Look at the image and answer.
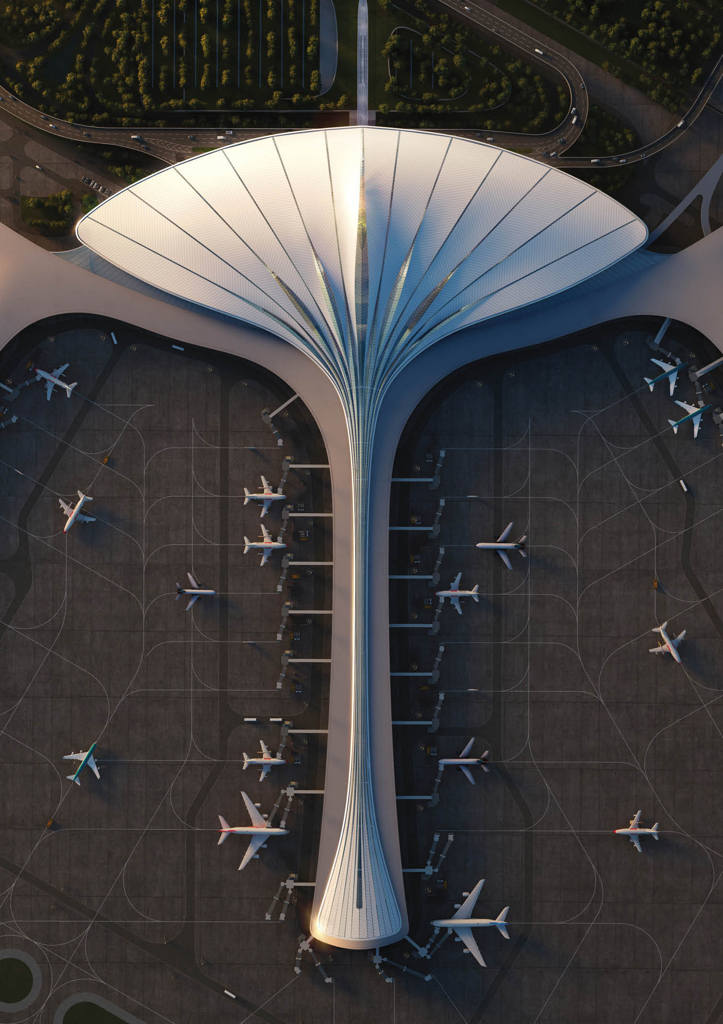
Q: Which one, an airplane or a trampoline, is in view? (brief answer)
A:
airplane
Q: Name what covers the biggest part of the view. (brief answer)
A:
paved ground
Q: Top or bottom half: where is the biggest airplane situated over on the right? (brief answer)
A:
bottom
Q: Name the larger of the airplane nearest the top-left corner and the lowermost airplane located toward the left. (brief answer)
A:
the lowermost airplane located toward the left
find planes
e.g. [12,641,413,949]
[431,881,510,968]
[476,521,527,571]
[434,572,480,615]
[644,358,689,396]
[215,792,289,872]
[34,363,75,400]
[175,572,216,611]
[650,621,688,664]
[242,740,288,782]
[243,525,288,567]
[244,476,288,518]
[667,401,712,439]
[438,737,490,787]
[57,489,95,533]
[61,743,99,788]
[614,810,661,853]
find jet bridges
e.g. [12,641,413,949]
[295,932,333,983]
[265,871,315,920]
[391,643,444,684]
[397,762,444,807]
[688,358,723,408]
[277,602,332,641]
[389,498,444,538]
[643,318,683,365]
[712,405,723,442]
[277,505,333,544]
[0,373,43,401]
[277,554,333,592]
[276,721,328,760]
[389,546,444,587]
[276,650,331,689]
[393,692,444,733]
[0,415,19,431]
[277,456,330,495]
[368,948,433,982]
[260,395,297,446]
[266,779,324,827]
[392,450,444,490]
[406,926,452,959]
[403,832,453,880]
[389,595,444,635]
